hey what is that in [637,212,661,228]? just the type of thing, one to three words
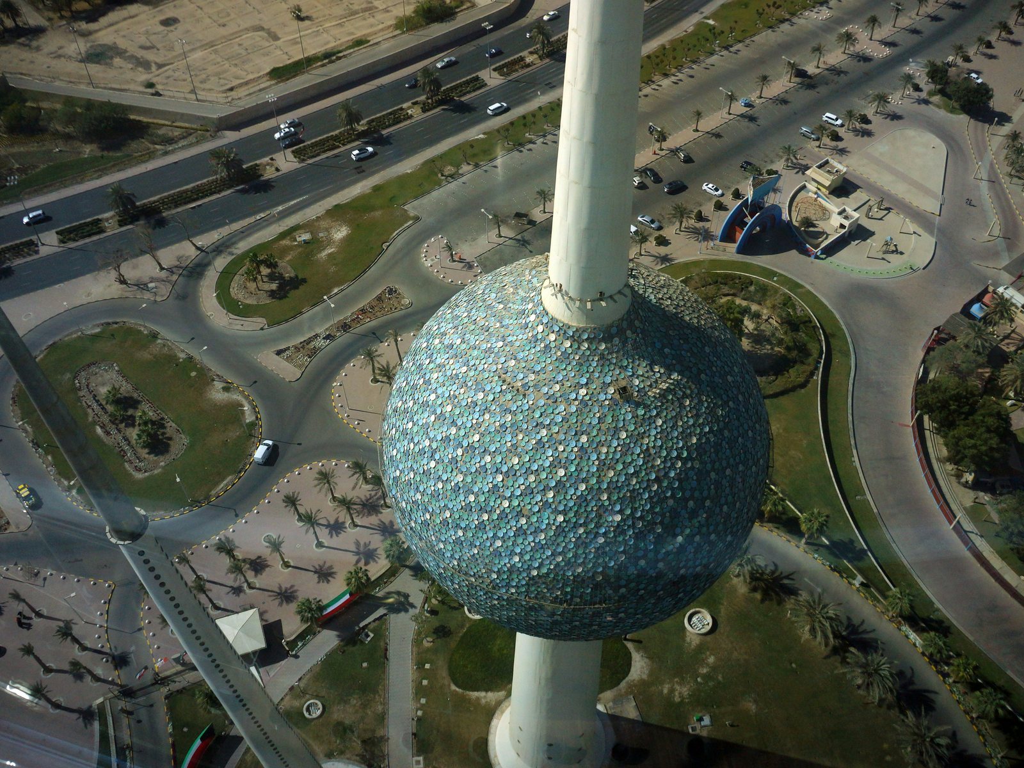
car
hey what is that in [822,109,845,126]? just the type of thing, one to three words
car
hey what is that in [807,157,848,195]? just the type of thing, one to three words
building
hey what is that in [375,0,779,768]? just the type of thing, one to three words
water tower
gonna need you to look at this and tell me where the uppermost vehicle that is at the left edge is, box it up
[17,207,46,224]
